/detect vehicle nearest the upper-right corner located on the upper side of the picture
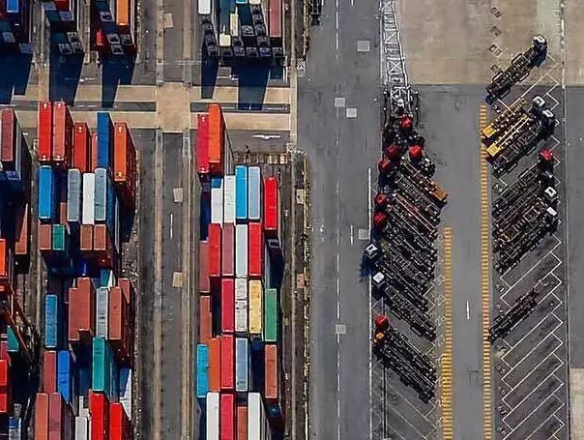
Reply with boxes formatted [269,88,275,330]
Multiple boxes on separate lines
[493,35,548,95]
